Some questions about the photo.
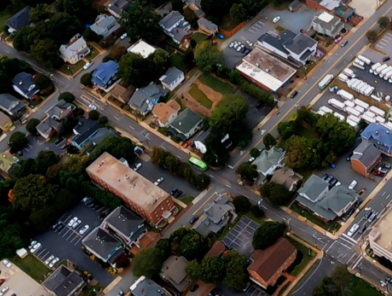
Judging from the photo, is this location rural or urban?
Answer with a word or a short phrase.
urban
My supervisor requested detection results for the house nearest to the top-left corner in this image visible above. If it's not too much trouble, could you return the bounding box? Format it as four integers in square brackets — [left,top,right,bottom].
[2,7,37,34]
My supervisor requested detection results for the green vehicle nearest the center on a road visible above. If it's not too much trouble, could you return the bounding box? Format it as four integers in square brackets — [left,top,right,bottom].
[188,155,208,172]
